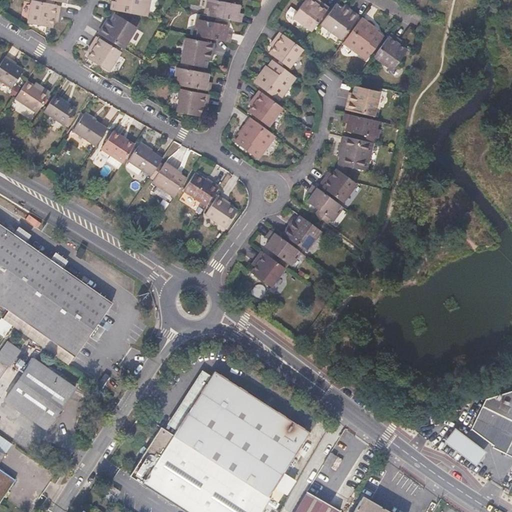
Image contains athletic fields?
No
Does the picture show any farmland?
No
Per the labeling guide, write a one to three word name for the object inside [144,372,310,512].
warehouse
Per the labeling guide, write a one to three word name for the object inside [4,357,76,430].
building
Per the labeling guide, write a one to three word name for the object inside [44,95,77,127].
house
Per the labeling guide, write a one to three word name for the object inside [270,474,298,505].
shed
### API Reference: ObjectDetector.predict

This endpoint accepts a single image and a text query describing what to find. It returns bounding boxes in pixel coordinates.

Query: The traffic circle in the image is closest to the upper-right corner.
[248,170,292,216]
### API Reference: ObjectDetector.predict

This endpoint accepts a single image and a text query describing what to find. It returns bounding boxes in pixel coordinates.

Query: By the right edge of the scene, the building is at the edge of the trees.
[471,394,512,457]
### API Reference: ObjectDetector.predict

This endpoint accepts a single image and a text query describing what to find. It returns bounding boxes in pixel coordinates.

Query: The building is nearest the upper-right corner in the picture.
[374,34,408,72]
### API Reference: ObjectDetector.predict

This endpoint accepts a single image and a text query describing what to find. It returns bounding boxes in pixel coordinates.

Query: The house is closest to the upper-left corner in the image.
[26,1,60,28]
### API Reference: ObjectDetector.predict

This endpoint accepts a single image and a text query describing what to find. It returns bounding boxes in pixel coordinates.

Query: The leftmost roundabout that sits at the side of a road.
[162,270,226,334]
